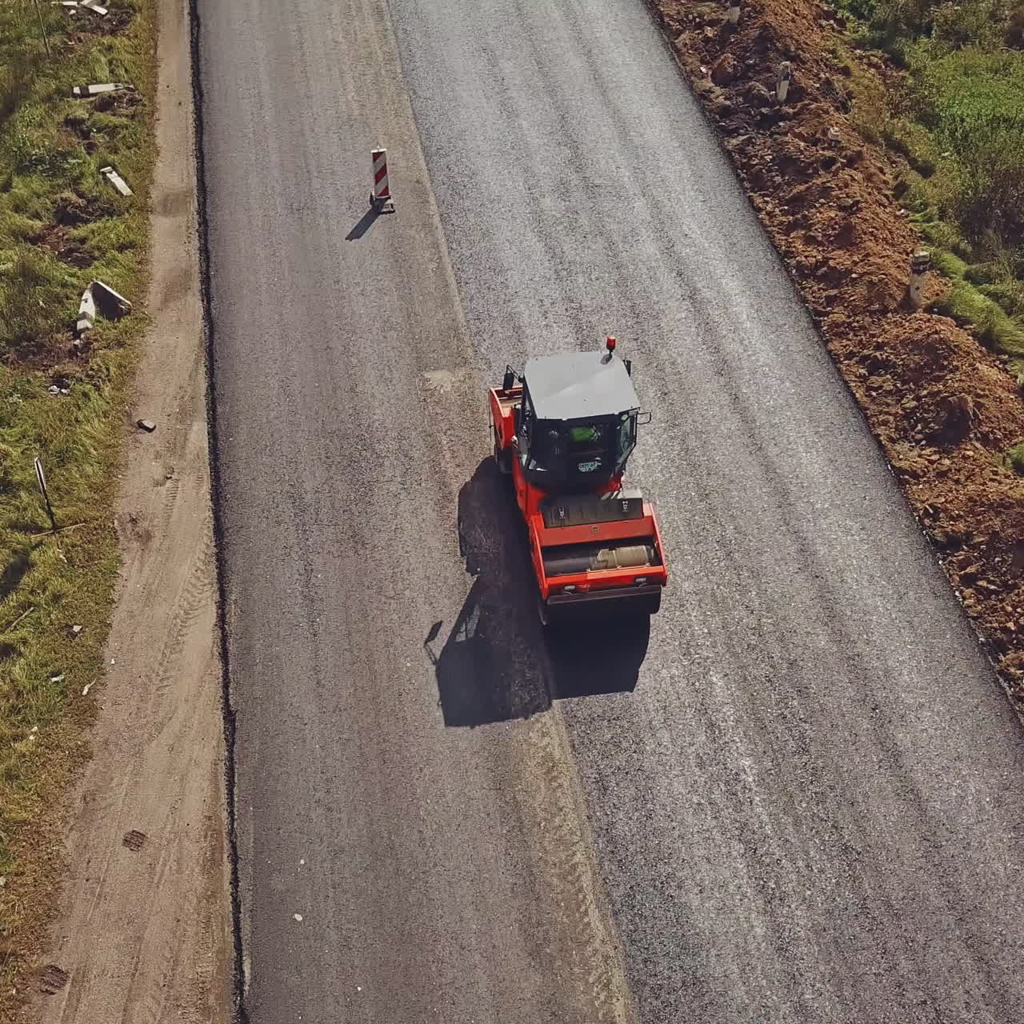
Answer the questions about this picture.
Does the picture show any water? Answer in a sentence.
No, the picture contains no water.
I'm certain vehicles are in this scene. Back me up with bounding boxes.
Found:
[487,333,667,625]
